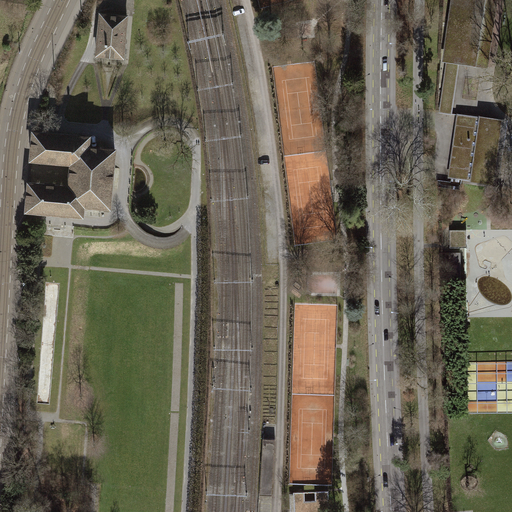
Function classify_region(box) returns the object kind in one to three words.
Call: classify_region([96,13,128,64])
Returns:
house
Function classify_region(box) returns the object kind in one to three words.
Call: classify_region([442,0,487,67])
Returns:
building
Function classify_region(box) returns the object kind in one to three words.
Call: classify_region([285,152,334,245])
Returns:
tennis court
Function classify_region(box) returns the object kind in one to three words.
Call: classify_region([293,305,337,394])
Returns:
tennis court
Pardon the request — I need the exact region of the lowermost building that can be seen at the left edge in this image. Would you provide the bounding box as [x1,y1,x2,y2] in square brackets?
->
[24,131,120,219]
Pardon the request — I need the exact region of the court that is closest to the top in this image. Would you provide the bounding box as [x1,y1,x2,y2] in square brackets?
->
[274,62,324,154]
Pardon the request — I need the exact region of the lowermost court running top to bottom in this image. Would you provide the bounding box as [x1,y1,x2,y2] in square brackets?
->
[290,395,335,484]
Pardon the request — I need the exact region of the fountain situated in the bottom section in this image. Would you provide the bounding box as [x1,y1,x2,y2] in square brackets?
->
[488,430,508,450]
